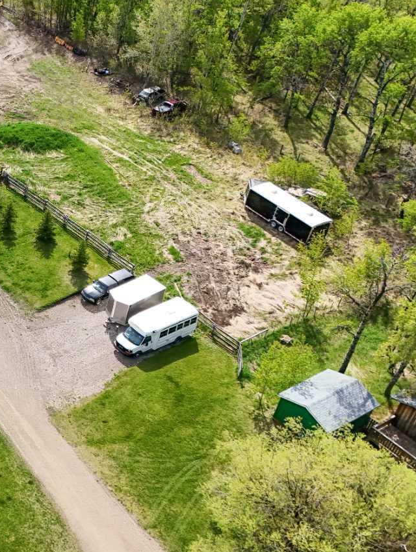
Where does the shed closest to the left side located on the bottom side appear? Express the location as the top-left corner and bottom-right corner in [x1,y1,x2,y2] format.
[277,370,378,442]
